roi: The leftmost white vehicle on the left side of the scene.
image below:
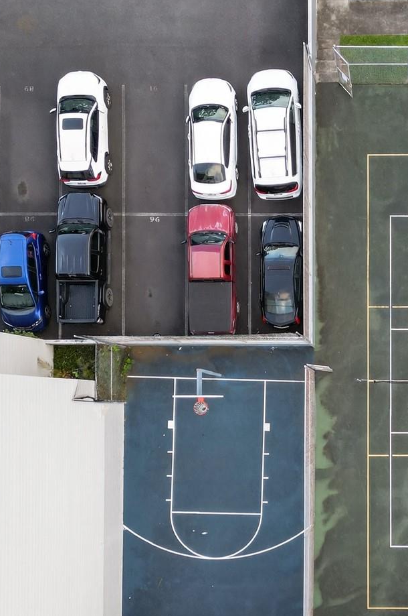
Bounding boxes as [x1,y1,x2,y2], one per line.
[49,71,112,189]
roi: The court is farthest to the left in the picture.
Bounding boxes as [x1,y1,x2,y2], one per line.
[121,345,316,616]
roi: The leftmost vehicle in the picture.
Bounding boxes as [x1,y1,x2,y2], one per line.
[0,230,51,334]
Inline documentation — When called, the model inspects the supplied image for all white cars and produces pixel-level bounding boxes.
[182,78,239,202]
[243,69,300,201]
[49,71,112,189]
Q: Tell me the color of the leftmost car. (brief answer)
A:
blue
